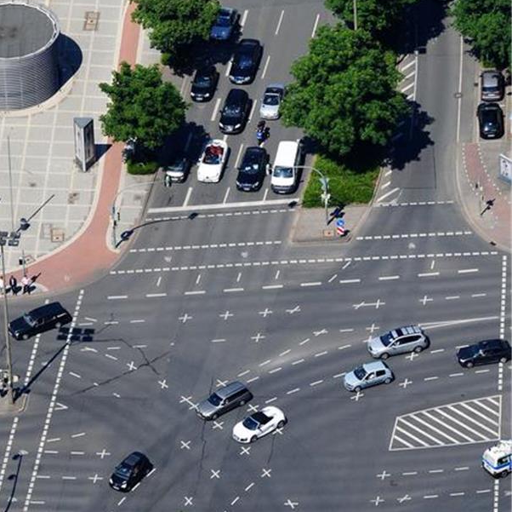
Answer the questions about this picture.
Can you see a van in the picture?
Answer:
Yes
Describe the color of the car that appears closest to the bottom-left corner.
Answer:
black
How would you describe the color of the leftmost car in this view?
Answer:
black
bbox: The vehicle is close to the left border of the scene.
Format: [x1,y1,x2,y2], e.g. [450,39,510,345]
[6,297,74,342]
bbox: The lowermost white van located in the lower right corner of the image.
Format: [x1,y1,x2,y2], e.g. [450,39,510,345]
[479,441,512,480]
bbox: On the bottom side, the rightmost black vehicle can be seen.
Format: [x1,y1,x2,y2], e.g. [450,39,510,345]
[455,336,512,371]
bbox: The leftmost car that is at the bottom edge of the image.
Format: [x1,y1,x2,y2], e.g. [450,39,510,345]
[108,448,155,491]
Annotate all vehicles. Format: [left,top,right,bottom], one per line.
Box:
[229,403,290,443]
[235,147,267,190]
[257,79,286,123]
[163,142,194,182]
[455,336,512,371]
[229,39,261,82]
[270,137,302,192]
[219,89,251,132]
[189,61,219,102]
[478,64,507,104]
[196,140,227,179]
[365,323,433,359]
[195,376,255,422]
[341,358,397,395]
[210,2,239,41]
[477,101,505,137]
[6,297,74,342]
[479,441,512,480]
[108,448,155,491]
